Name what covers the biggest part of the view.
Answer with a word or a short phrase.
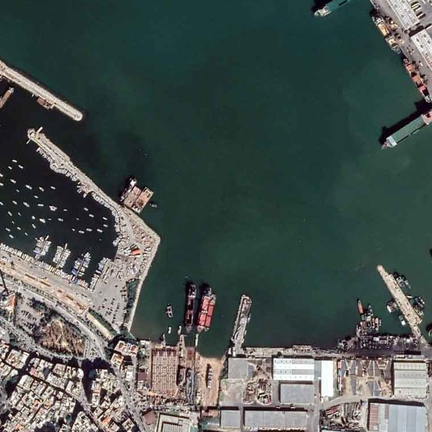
water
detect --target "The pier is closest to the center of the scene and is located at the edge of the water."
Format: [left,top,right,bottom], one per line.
[233,299,250,345]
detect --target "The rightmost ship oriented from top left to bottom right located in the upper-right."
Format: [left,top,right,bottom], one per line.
[403,57,431,102]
